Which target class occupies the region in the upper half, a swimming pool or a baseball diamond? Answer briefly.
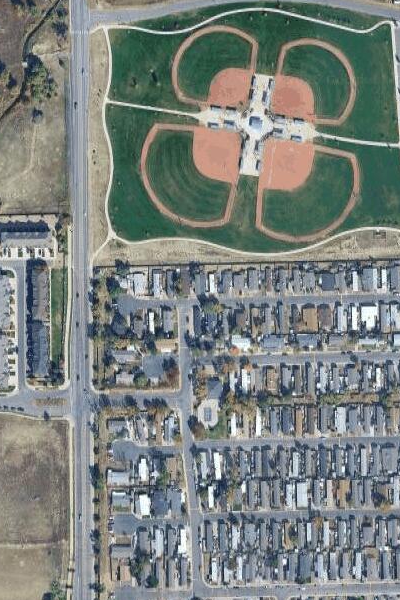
baseball diamond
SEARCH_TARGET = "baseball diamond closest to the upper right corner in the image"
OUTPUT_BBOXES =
[268,37,356,125]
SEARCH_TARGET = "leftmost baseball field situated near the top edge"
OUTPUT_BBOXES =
[171,22,259,113]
